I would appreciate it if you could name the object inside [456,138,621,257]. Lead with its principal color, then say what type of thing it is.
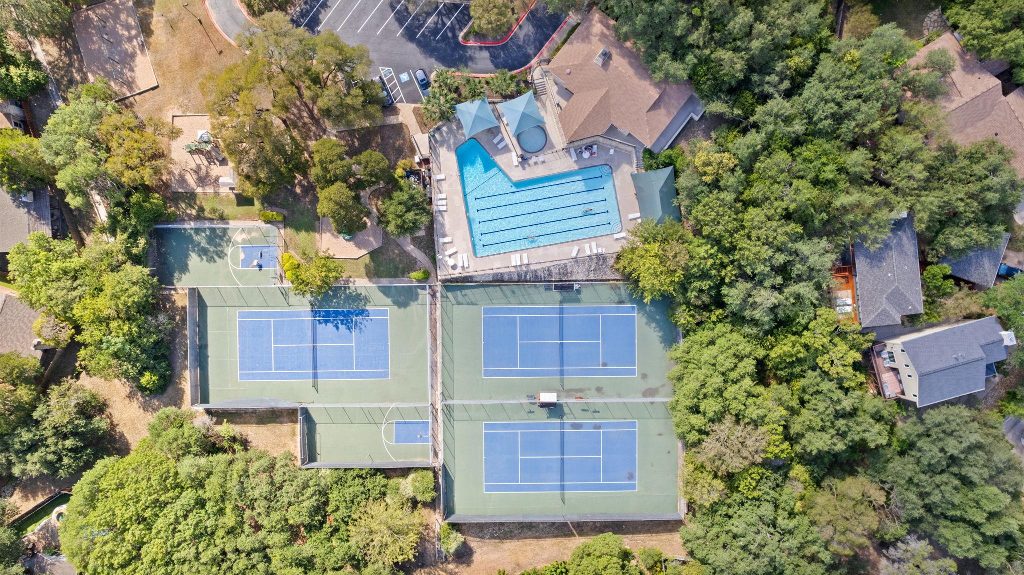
blue swimming pool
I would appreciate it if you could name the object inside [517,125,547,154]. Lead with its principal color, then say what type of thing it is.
blue swimming pool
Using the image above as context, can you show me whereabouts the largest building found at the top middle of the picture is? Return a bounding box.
[547,9,693,147]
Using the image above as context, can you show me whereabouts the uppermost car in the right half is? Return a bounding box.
[996,262,1022,278]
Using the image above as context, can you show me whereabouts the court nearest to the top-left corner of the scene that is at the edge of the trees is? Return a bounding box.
[161,226,277,286]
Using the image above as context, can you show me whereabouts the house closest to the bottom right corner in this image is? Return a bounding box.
[878,315,1017,407]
